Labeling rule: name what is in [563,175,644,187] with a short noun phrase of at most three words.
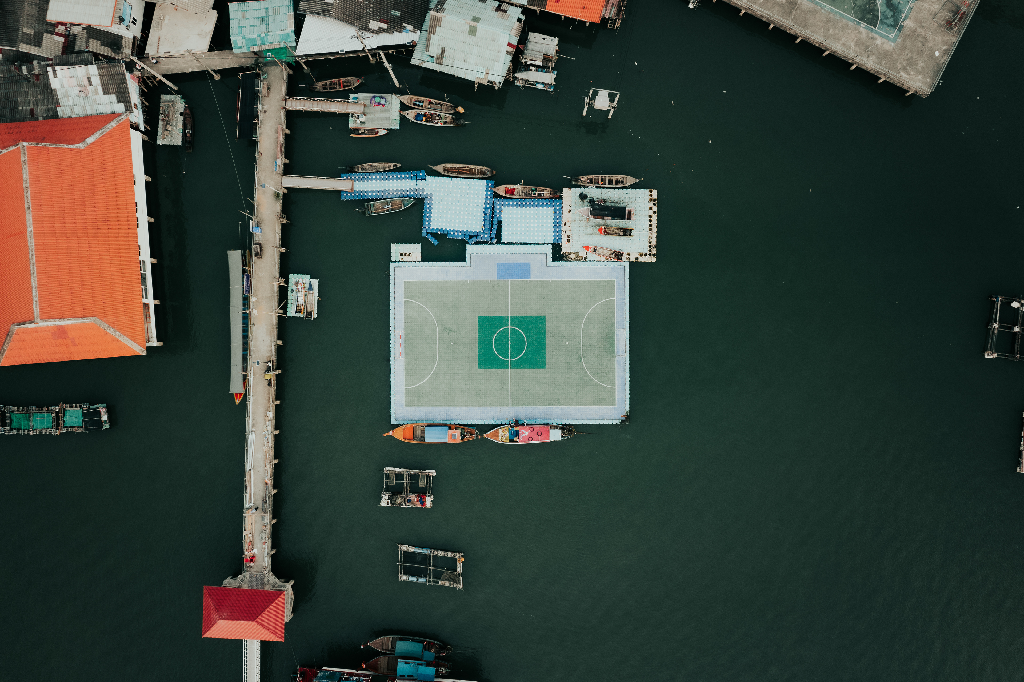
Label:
boat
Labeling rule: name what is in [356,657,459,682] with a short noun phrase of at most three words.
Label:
boat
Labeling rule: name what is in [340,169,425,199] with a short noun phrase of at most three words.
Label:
pier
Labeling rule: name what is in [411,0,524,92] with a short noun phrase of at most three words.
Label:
house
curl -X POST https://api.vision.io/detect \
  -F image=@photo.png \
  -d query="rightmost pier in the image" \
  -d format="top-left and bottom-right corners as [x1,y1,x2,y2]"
[562,187,658,262]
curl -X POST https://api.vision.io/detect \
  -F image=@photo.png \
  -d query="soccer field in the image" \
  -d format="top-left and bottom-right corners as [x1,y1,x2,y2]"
[390,244,630,425]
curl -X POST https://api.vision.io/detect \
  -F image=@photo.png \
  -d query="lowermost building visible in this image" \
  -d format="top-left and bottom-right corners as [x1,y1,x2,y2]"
[201,571,295,643]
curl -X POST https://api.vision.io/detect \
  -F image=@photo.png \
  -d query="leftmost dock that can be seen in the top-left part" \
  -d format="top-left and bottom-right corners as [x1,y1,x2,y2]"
[155,94,184,146]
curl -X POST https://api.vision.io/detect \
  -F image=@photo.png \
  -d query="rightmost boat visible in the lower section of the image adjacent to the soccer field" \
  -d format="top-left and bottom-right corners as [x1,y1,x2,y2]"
[478,422,593,443]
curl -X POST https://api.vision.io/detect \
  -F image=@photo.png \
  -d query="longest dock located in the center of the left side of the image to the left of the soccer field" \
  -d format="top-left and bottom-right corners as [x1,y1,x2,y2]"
[243,61,295,573]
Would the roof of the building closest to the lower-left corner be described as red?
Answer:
Yes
